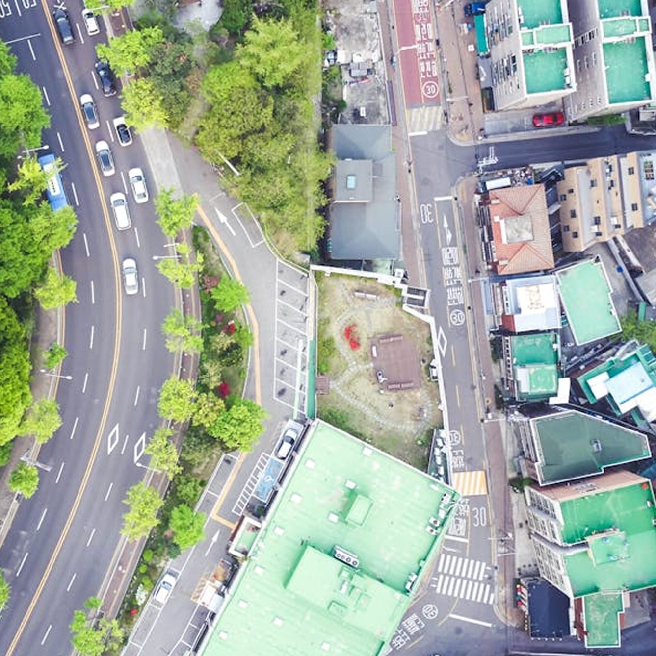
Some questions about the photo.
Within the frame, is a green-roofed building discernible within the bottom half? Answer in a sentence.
Yes, looking within the bottom half, one can make out a green-roofed building.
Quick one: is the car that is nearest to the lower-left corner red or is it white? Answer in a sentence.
From above, the car that is nearest to the lower-left corner appears white.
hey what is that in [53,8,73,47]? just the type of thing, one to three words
car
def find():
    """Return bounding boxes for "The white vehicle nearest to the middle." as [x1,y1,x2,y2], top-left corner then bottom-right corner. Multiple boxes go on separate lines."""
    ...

[274,423,301,461]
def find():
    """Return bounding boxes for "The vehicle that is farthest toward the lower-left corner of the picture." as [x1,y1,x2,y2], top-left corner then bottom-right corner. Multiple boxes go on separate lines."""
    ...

[151,568,179,606]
